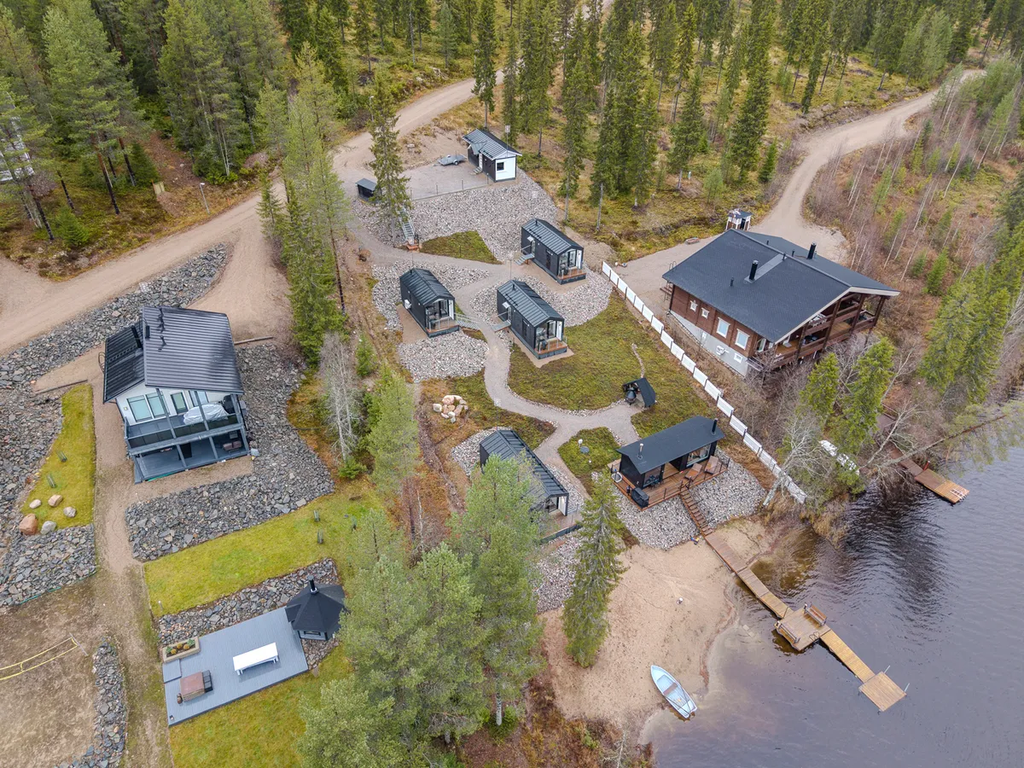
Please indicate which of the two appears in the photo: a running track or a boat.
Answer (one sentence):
This aerial view contains a boat.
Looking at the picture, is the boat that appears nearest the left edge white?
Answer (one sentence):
Yes, the boat that appears nearest the left edge is indeed white.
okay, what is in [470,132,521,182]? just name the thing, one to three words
building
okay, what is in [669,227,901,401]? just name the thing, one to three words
house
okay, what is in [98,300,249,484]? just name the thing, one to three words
house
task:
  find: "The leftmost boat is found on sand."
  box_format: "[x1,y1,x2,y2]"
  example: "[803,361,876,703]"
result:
[652,663,701,717]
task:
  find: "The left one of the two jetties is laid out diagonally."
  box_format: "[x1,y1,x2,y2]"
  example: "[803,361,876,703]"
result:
[705,531,912,715]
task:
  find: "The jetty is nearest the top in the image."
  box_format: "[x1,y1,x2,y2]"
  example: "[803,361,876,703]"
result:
[895,453,970,508]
